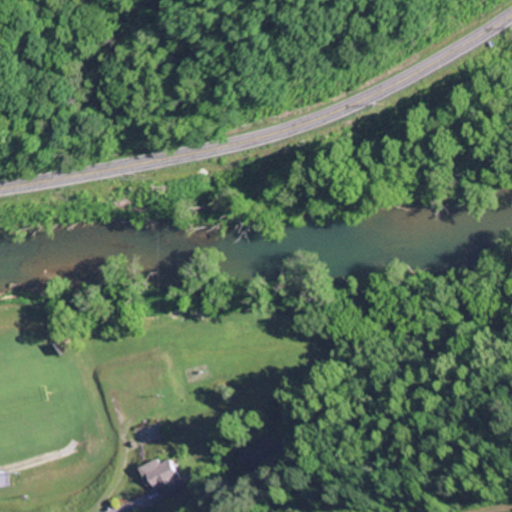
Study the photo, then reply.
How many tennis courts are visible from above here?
0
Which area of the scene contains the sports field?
bottom left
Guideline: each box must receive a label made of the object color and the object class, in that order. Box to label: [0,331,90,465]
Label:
green sports field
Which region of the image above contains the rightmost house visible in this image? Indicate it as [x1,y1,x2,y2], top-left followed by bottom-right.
[138,460,179,488]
